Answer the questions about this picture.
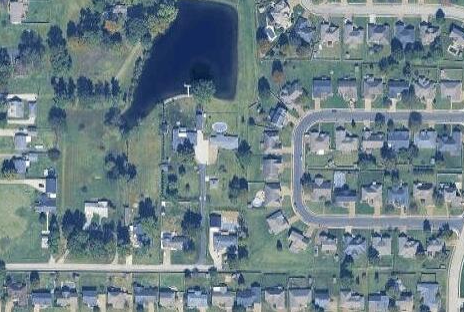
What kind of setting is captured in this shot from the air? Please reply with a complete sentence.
This looks like a residential area.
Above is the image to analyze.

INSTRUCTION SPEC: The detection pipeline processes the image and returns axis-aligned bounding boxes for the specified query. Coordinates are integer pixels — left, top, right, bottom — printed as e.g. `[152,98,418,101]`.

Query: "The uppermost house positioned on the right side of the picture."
[267,0,296,26]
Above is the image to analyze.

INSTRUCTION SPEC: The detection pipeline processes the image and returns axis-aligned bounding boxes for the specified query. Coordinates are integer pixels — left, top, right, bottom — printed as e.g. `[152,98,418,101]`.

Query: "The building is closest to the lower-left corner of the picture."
[8,281,28,305]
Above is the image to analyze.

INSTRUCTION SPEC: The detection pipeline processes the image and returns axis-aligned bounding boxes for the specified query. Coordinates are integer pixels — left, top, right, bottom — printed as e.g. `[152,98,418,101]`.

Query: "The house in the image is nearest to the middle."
[210,135,238,149]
